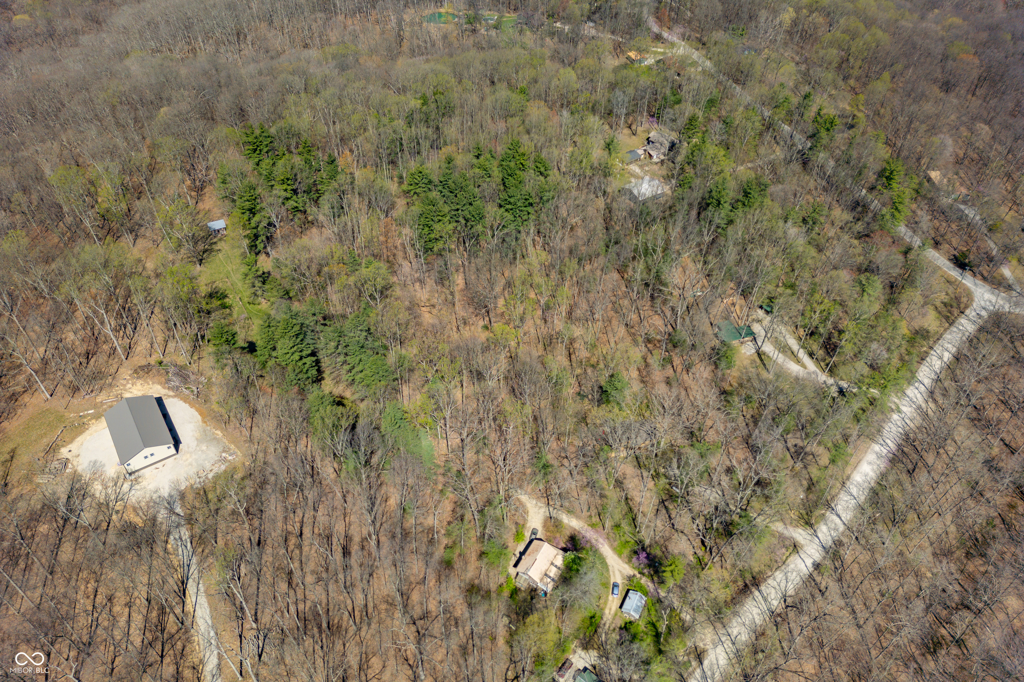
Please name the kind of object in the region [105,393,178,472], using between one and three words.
barn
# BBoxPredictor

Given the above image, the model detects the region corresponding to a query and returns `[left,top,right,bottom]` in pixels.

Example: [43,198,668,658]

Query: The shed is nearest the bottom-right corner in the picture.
[622,590,646,620]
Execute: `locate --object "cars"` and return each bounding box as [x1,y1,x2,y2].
[611,581,620,599]
[528,527,540,542]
